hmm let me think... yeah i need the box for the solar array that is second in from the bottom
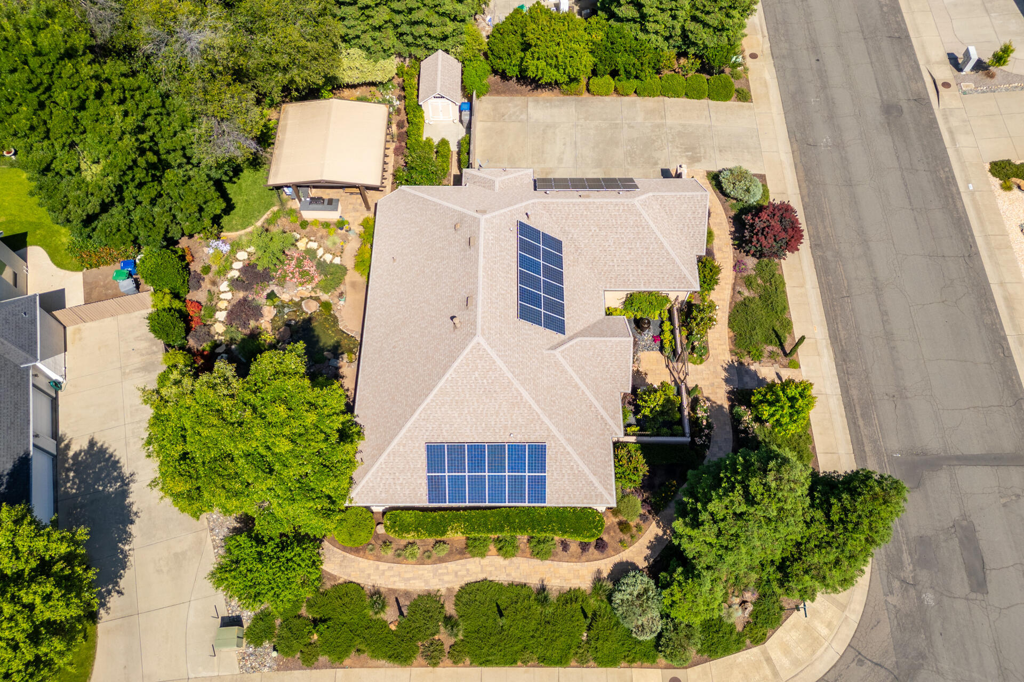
[517,220,566,335]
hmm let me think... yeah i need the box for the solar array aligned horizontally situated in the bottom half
[425,444,547,504]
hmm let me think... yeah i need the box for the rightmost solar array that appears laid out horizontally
[536,177,640,190]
